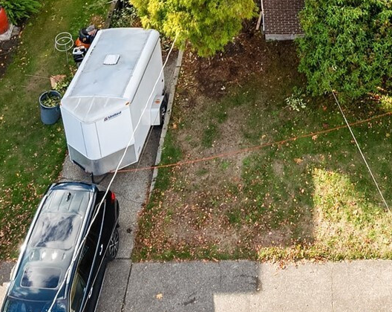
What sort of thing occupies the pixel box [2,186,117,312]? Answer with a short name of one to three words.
car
